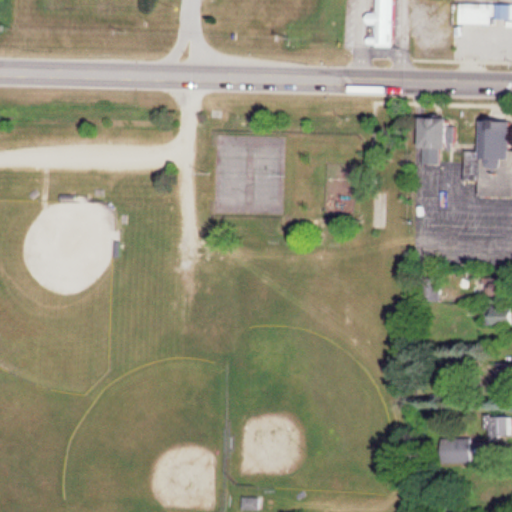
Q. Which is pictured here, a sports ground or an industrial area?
sports ground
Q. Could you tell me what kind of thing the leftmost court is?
tennis court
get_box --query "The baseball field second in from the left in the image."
[64,358,224,512]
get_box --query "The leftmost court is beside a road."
[215,135,286,215]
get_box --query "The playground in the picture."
[326,164,354,214]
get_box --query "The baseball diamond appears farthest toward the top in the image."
[0,201,117,394]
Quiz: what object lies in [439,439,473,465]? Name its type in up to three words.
house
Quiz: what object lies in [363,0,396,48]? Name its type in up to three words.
building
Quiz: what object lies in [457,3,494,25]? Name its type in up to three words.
shed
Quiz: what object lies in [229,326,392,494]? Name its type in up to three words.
baseball field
